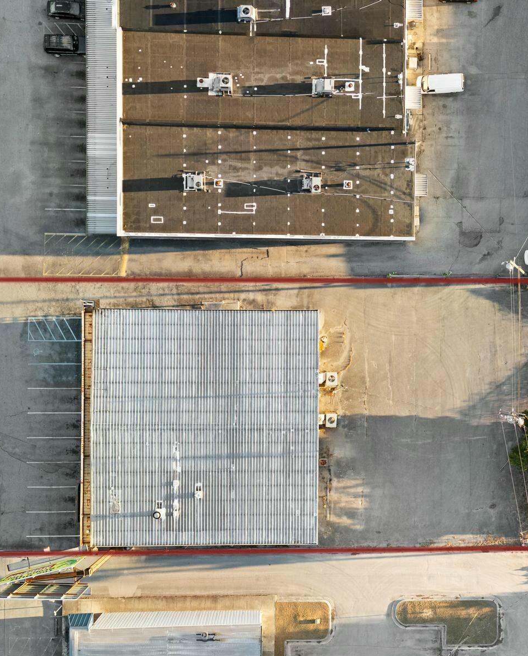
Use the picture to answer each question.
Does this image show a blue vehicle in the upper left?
No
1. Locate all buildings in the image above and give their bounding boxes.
[78,300,320,547]
[67,603,262,656]
[86,0,429,248]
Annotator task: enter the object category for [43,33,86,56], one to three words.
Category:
car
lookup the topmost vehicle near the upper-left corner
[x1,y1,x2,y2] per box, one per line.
[45,0,86,21]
